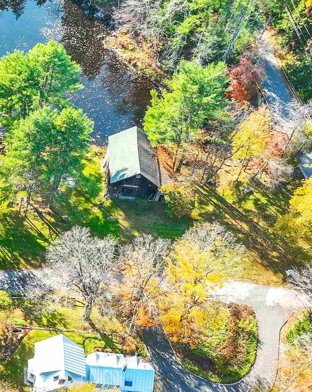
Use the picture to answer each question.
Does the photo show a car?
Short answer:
No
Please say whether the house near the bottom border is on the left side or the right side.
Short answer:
left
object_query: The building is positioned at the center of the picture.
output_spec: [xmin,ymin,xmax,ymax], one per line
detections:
[103,123,173,204]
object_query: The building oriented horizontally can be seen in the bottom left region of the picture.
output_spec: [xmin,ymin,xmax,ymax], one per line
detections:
[12,334,156,392]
